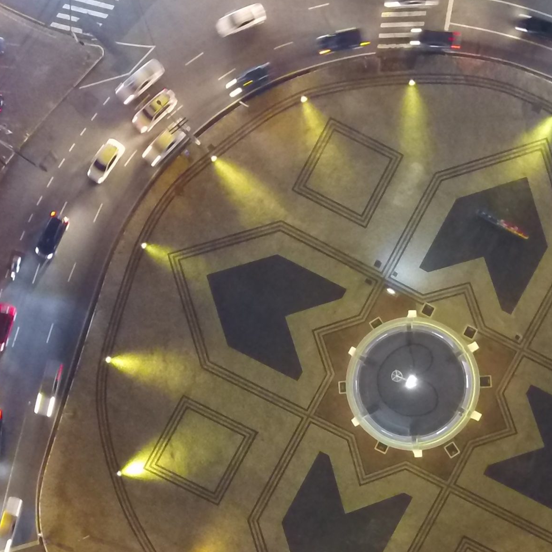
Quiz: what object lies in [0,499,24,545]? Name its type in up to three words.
car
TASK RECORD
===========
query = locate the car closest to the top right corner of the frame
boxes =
[519,15,552,45]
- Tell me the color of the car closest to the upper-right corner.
black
